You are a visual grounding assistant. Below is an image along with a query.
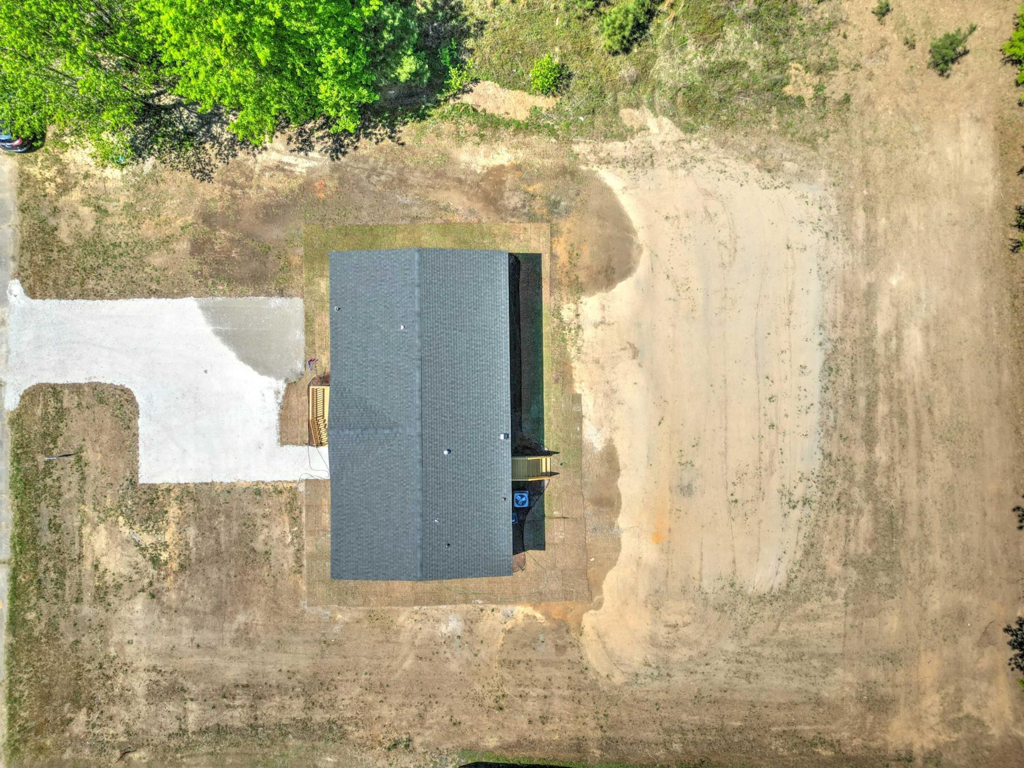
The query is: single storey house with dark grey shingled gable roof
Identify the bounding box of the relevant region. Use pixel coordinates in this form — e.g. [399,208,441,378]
[326,248,512,583]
